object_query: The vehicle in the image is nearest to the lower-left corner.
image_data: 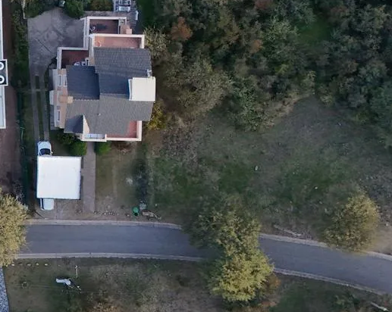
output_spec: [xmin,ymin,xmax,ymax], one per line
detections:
[39,199,52,212]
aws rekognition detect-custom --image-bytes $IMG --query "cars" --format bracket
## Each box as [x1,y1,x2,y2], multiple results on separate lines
[39,199,52,212]
[37,139,51,156]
